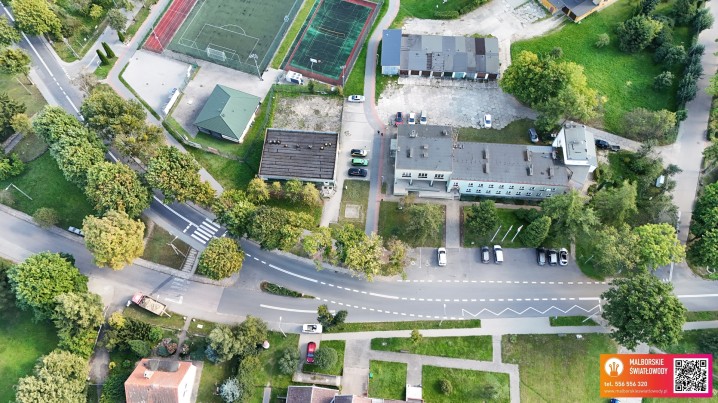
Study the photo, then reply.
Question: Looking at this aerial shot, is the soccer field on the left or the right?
left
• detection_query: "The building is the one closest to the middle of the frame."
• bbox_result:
[259,128,339,200]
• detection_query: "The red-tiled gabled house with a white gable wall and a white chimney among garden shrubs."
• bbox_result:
[124,359,196,403]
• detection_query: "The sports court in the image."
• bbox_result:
[286,0,377,86]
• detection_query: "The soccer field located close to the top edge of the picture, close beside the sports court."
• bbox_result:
[165,0,302,76]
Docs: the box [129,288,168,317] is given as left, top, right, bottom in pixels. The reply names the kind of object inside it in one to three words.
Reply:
truck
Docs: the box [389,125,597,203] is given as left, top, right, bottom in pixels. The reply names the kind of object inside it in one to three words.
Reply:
building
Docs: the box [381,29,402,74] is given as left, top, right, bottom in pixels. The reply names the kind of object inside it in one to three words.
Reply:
shed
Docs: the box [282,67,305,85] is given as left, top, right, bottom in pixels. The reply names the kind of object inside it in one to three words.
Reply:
vehicle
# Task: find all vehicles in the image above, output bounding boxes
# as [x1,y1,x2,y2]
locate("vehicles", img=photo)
[595,138,613,150]
[302,323,323,334]
[493,245,504,265]
[306,342,317,364]
[557,247,569,266]
[438,247,447,267]
[419,109,427,125]
[350,149,367,158]
[282,67,305,85]
[481,246,491,265]
[350,158,367,167]
[483,113,492,130]
[547,249,557,266]
[536,247,546,266]
[408,111,416,125]
[347,94,365,102]
[348,168,368,177]
[395,111,404,127]
[129,288,168,317]
[67,224,86,238]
